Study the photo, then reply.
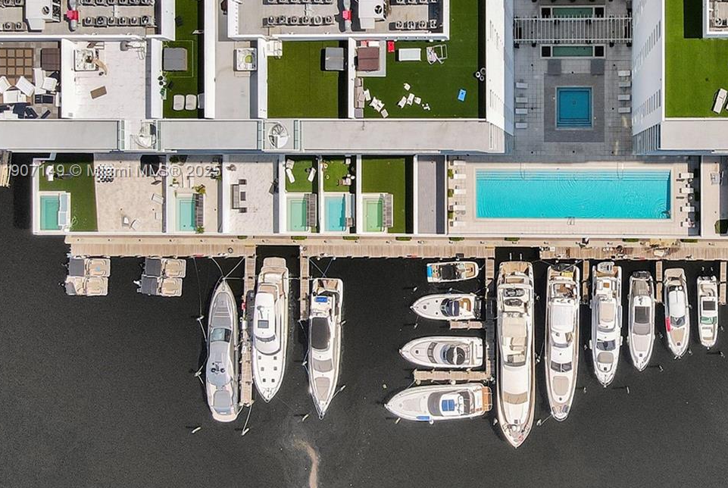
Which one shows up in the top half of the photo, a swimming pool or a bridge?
swimming pool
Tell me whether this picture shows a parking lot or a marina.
marina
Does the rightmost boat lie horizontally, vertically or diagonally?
vertically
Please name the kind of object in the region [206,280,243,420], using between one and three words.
boat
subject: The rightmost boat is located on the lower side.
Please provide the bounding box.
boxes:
[696,267,719,348]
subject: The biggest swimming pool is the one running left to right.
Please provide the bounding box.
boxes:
[471,163,676,224]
